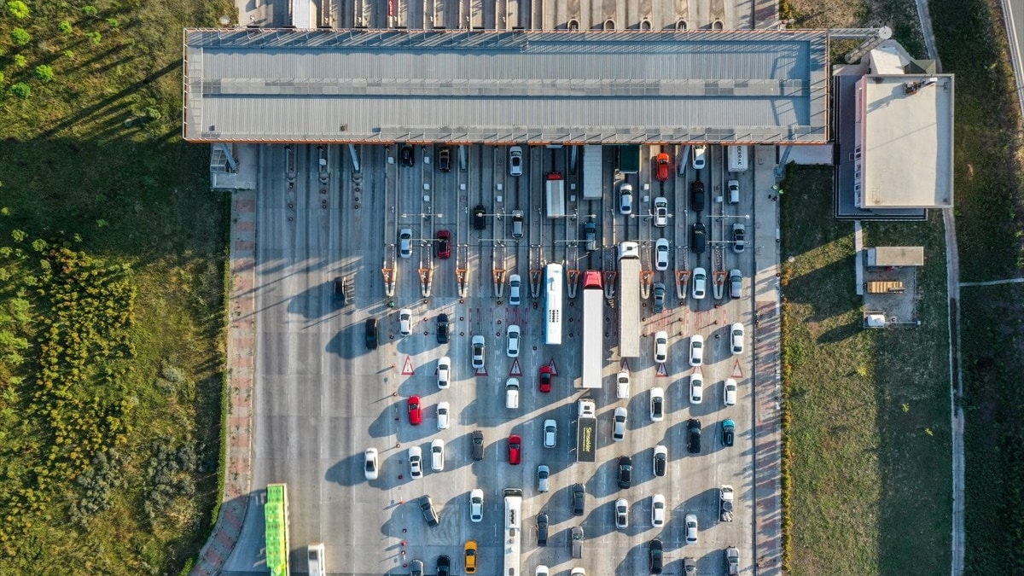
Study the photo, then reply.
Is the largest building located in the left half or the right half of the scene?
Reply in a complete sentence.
You can find the largest building on the right side of the picture.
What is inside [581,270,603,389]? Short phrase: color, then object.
white truck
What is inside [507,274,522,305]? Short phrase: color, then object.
blue car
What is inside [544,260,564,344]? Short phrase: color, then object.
white bus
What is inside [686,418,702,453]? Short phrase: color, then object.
black car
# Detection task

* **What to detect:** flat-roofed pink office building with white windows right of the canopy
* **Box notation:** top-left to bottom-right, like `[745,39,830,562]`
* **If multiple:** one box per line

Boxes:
[853,74,957,209]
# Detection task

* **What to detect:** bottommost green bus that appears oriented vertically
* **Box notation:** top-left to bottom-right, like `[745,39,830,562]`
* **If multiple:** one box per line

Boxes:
[265,480,291,576]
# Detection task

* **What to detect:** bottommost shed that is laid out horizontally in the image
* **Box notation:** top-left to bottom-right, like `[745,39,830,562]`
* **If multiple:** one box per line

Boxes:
[862,247,924,265]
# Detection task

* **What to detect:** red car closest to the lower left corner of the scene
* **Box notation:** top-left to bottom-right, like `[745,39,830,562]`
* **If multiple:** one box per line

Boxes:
[407,395,422,425]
